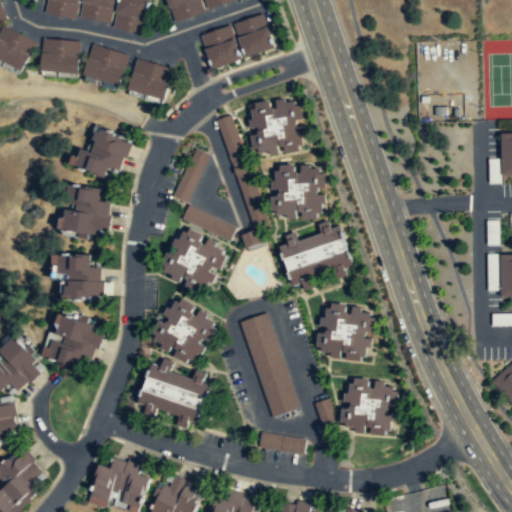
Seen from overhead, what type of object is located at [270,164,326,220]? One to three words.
building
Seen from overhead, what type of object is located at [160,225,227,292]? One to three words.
building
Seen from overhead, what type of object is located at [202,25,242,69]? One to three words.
house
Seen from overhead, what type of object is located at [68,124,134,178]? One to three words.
house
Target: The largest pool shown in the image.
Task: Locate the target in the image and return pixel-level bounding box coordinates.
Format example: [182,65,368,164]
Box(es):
[227,246,280,300]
